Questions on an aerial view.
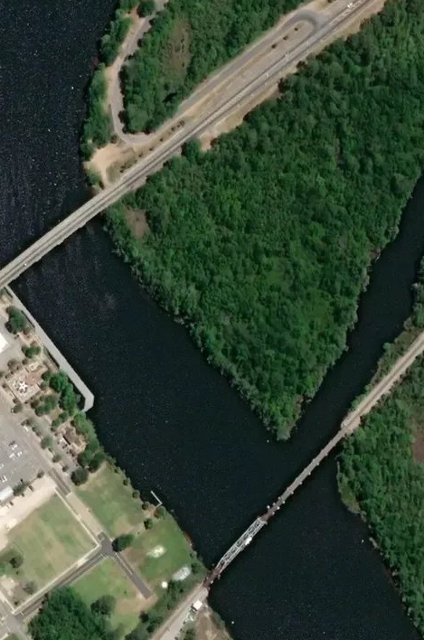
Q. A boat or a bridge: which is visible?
bridge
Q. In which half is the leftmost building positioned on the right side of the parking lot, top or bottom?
bottom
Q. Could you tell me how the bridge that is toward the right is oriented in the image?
diagonally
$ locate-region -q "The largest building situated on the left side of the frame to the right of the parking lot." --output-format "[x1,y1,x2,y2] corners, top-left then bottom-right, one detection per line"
[59,425,88,449]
